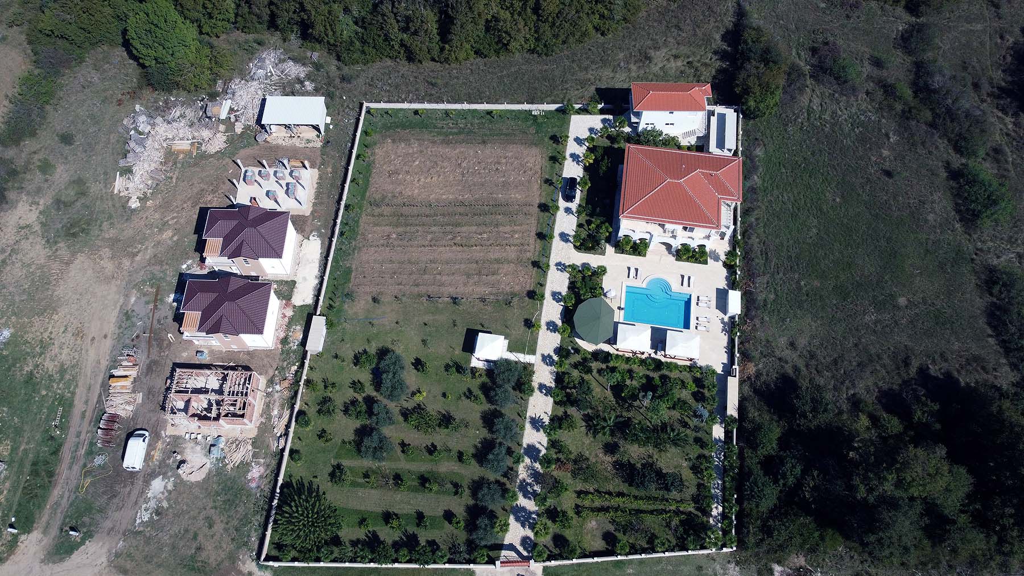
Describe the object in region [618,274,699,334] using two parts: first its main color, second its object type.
blue swimming pool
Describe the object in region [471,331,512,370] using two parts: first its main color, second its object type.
white gazebo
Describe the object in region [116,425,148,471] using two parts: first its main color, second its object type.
white van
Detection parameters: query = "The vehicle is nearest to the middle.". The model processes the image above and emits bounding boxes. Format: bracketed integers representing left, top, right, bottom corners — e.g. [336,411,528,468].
[565,177,578,203]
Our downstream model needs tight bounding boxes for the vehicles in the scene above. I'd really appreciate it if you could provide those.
[565,177,578,203]
[116,425,148,471]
